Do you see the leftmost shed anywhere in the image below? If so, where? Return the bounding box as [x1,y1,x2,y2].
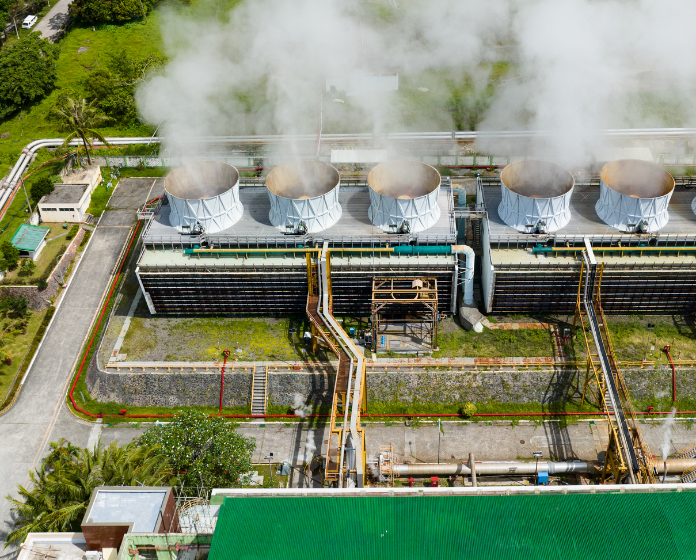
[10,223,52,265]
